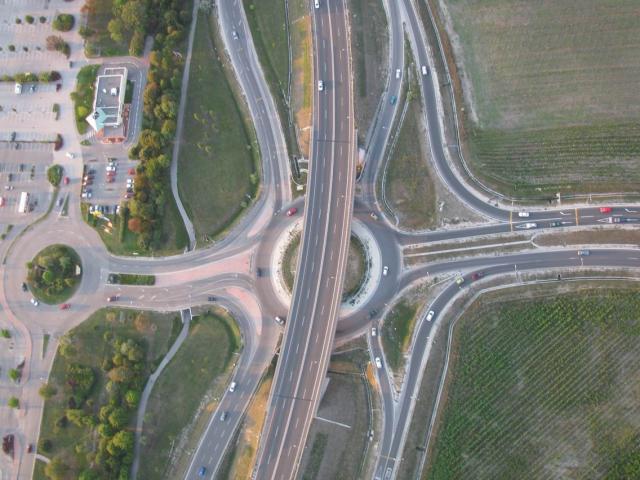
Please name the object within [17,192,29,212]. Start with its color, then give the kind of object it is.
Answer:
white vehicle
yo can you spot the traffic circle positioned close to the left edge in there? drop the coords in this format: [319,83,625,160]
[3,225,104,326]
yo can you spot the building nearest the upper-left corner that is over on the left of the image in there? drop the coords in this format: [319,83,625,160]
[86,66,129,126]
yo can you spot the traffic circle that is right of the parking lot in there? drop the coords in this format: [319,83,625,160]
[253,194,401,339]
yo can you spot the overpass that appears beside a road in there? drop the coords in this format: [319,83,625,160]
[250,0,356,480]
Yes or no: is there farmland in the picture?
Yes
